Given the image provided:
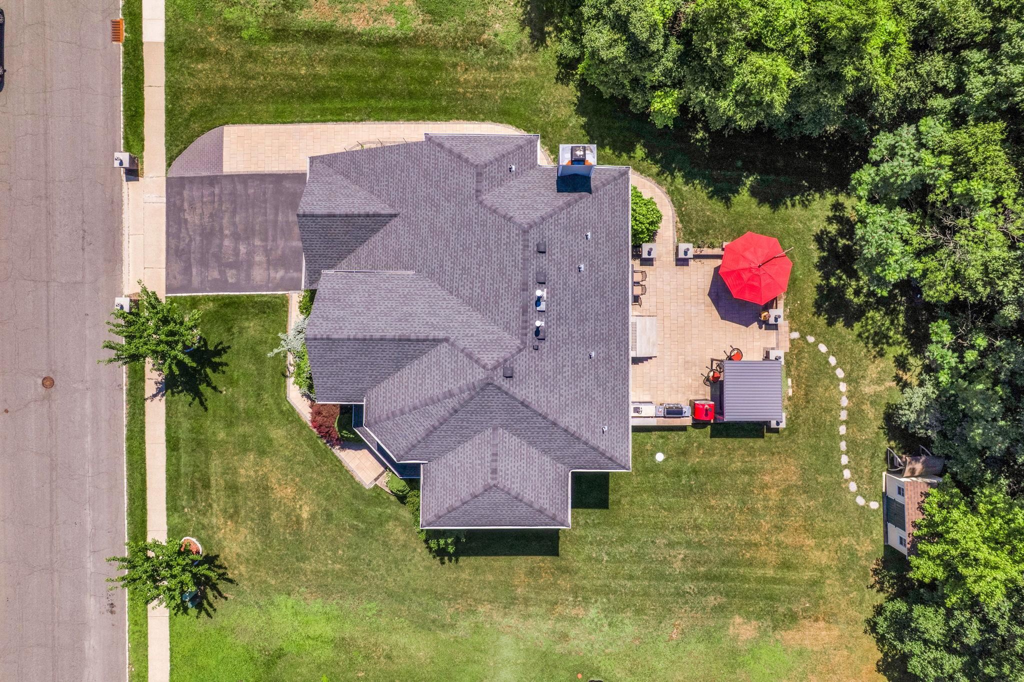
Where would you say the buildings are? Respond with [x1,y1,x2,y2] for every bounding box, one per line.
[295,133,632,528]
[882,472,956,562]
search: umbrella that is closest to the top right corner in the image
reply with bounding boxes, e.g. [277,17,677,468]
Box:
[719,232,794,305]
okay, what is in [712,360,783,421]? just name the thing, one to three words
gazebo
